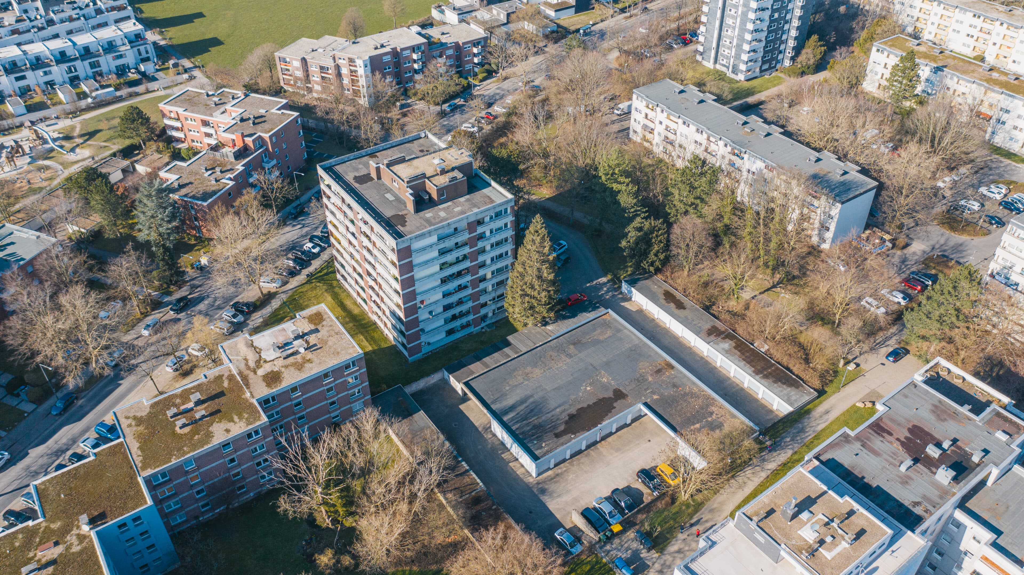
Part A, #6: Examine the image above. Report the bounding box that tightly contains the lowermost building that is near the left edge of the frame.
[0,303,371,575]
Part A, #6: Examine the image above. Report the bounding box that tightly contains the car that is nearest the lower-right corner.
[885,346,909,362]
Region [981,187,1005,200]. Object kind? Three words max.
vehicle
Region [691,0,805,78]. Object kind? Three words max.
building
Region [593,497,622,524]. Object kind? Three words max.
car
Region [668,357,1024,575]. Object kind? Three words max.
building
